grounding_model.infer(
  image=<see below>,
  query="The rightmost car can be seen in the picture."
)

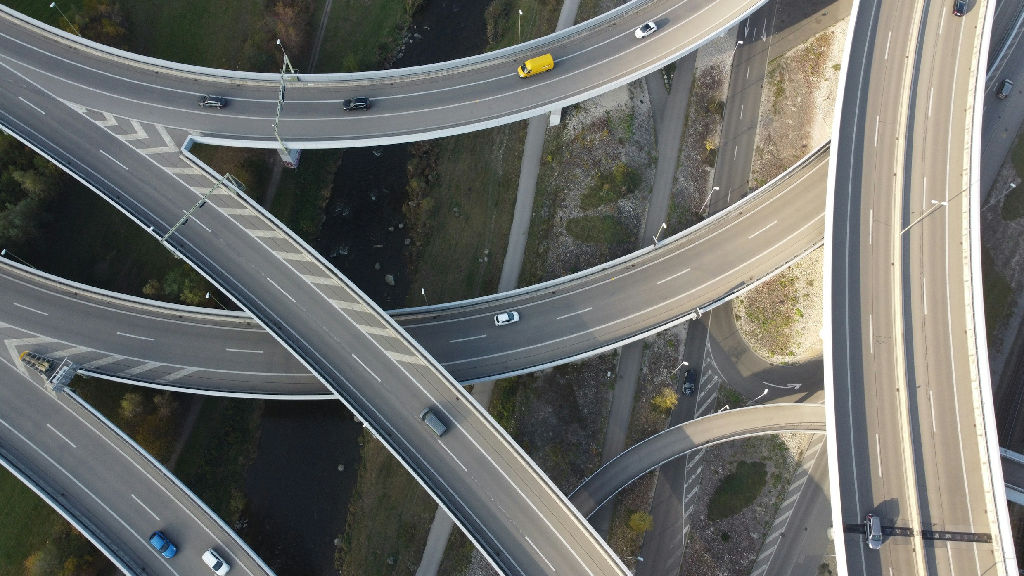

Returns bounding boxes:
[996,81,1013,99]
